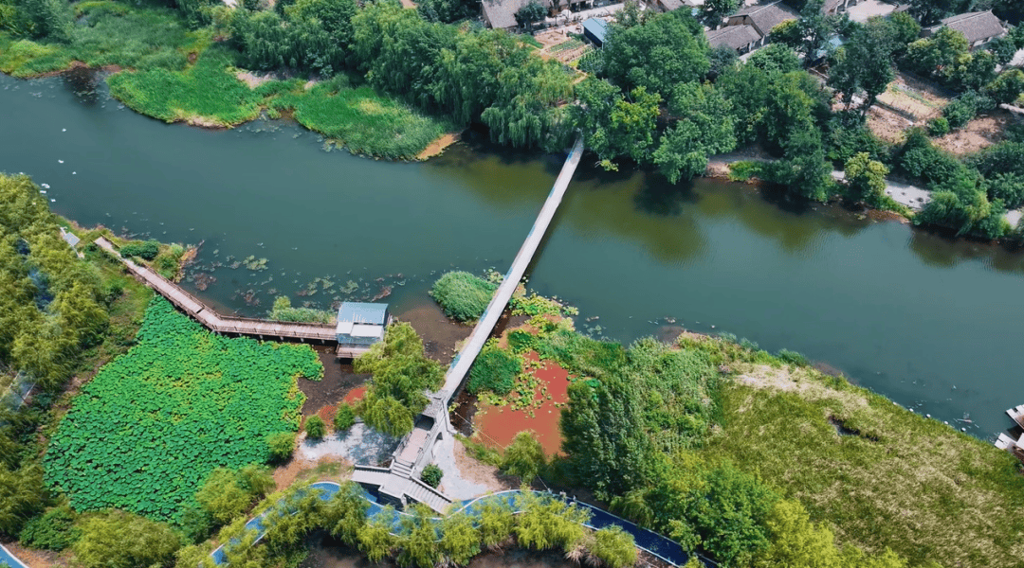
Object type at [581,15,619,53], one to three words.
shed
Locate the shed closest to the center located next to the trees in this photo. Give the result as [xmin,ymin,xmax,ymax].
[334,297,397,362]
